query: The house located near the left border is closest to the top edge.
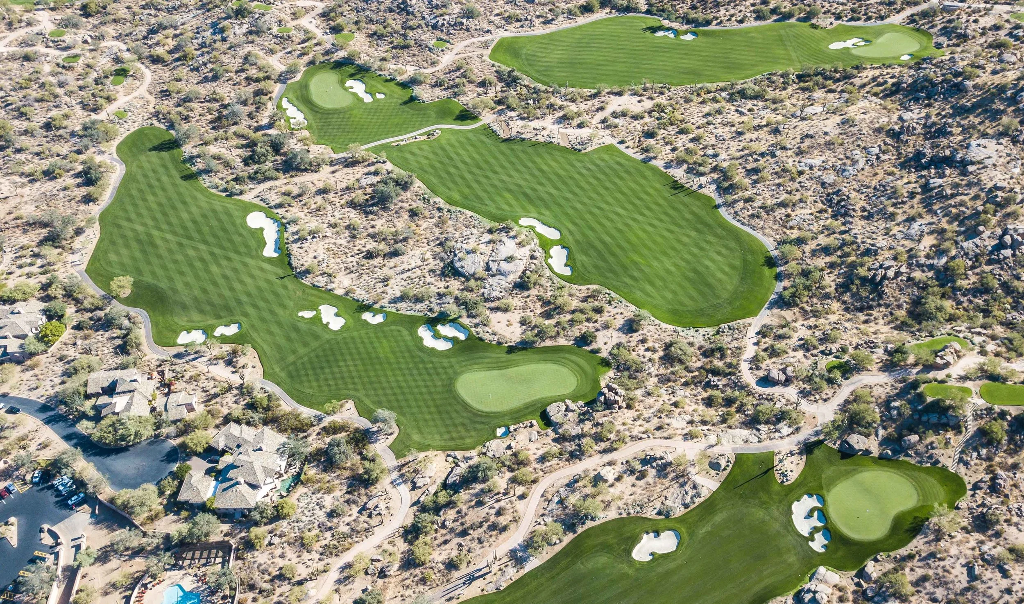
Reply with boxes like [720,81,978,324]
[0,301,48,358]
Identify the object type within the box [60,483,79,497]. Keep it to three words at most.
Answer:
car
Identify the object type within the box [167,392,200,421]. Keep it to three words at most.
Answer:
house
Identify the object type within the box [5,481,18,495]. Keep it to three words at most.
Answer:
vehicle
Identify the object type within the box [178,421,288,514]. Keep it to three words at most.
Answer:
house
